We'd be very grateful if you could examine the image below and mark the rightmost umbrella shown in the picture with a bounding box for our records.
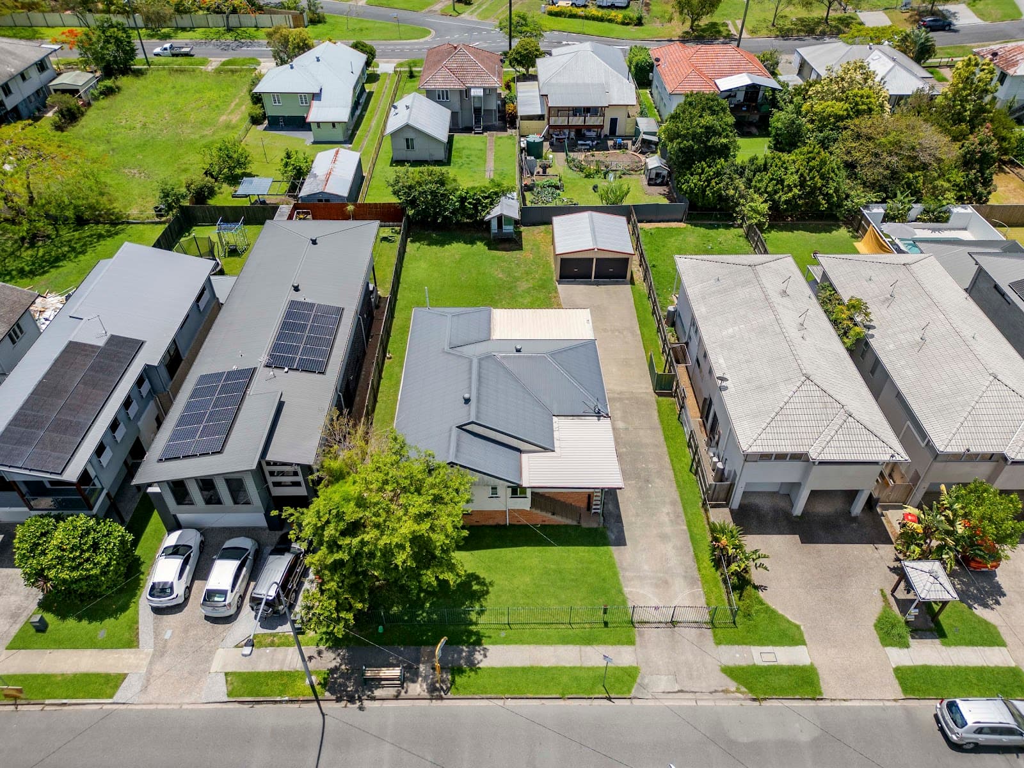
[877,222,916,244]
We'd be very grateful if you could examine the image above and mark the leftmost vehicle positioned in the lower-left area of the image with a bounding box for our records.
[144,527,209,606]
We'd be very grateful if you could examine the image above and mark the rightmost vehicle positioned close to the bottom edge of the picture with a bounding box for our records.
[933,690,1024,749]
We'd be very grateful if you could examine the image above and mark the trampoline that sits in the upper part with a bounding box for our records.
[167,227,222,262]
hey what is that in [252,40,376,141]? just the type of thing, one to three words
house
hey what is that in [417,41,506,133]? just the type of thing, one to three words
house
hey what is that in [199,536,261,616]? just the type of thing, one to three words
car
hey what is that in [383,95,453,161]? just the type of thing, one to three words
building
